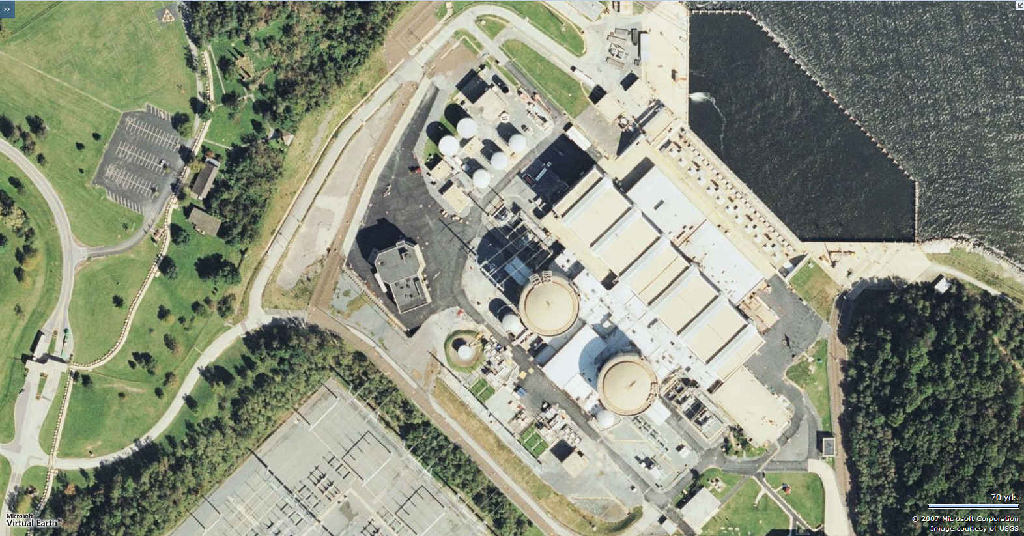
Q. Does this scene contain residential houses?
Yes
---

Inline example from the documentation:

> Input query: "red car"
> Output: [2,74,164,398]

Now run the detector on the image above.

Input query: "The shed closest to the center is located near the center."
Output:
[506,255,533,284]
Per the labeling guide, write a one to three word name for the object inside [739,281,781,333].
building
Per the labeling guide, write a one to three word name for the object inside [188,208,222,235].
house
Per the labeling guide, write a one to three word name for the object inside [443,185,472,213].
shed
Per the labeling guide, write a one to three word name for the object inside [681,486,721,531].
building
